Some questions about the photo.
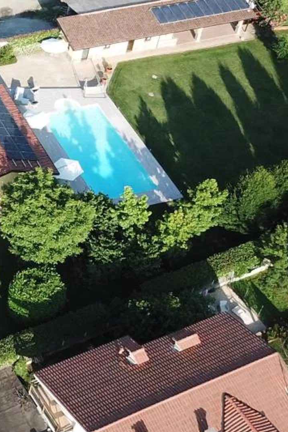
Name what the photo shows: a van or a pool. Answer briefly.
pool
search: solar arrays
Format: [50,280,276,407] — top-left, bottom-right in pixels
[0,96,37,161]
[152,0,251,25]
